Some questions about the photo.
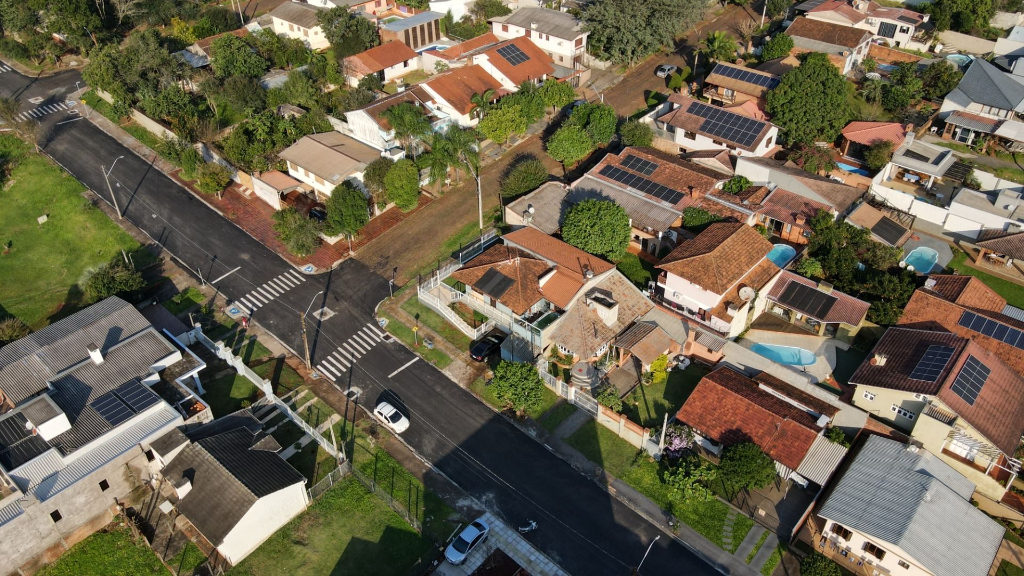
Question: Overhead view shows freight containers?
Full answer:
No, I can see no freight container in this picture.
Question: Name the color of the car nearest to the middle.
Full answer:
From above, the car nearest to the middle appears black.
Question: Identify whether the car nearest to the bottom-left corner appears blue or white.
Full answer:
The color of the car nearest to the bottom-left corner is white.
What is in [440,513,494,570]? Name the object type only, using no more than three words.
car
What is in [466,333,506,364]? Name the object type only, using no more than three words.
car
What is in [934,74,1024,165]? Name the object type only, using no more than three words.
house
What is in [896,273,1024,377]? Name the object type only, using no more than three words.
house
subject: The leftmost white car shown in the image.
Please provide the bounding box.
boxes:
[367,397,411,436]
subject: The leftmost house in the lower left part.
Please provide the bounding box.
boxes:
[0,296,216,576]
